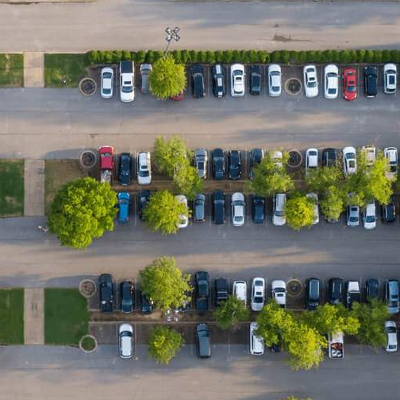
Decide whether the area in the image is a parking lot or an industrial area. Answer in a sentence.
The area seen from above is a parking lot.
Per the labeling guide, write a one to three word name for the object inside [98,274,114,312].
vehicle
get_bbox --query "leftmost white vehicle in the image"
[98,67,114,99]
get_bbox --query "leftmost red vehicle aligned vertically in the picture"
[98,145,113,183]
